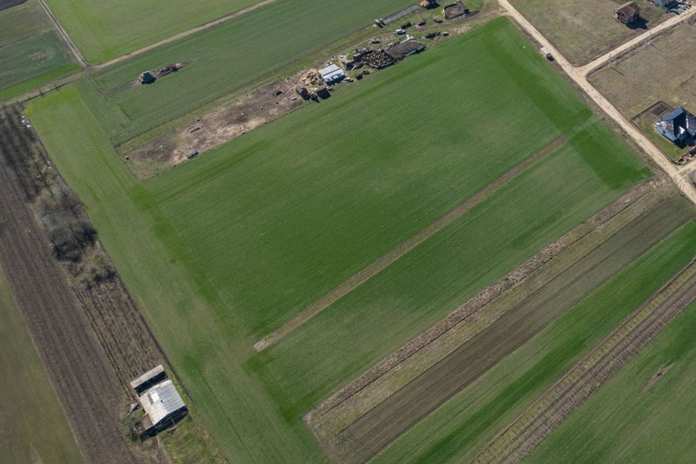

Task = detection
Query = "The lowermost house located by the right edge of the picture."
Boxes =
[665,106,696,140]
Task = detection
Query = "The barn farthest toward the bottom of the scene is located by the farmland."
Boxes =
[137,380,187,432]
